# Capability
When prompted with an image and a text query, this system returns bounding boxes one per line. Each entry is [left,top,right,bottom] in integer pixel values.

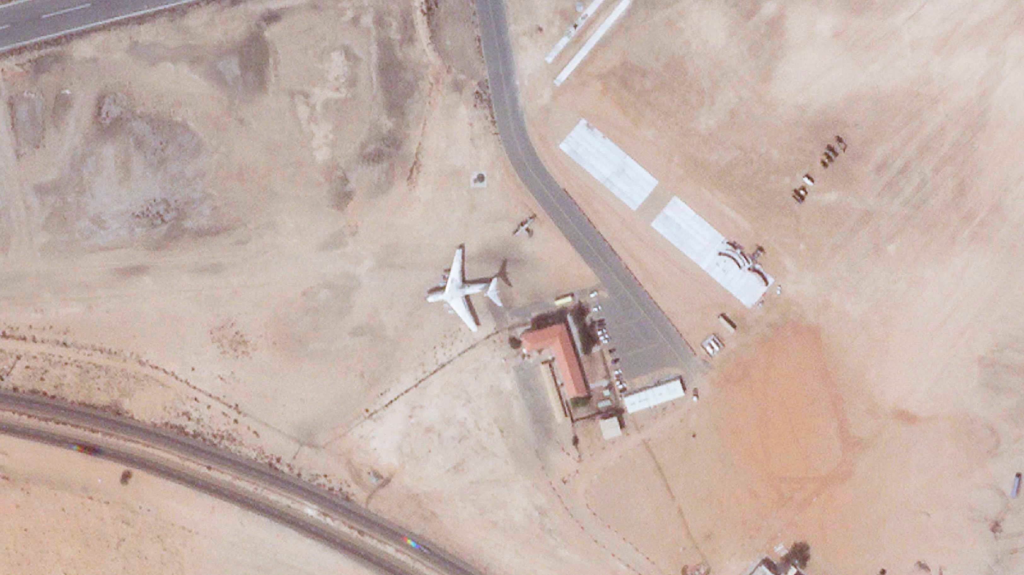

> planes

[427,253,501,330]
[514,218,534,235]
